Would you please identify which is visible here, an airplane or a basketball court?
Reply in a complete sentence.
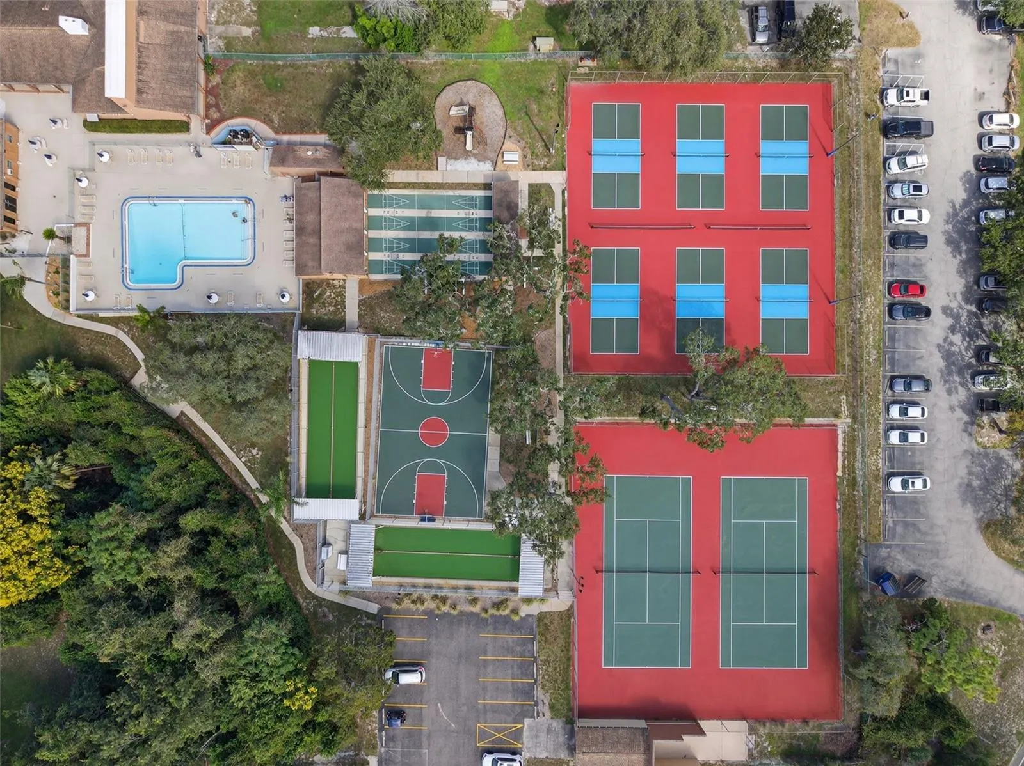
Of the two, only a basketball court appears.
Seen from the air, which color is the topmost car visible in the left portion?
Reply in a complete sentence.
The topmost car visible in the left portion looks white in the image.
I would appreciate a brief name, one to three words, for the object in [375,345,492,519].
basketball court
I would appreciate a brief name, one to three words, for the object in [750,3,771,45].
car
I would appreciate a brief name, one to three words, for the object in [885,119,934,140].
truck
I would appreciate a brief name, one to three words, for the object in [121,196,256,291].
swimming pool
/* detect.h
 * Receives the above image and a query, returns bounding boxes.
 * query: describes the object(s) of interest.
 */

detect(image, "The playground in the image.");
[448,99,487,149]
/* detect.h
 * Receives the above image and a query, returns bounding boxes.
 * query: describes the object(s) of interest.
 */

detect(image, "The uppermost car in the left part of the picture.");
[387,665,423,686]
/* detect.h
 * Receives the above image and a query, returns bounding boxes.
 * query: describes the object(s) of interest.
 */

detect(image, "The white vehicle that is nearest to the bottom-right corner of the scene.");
[889,475,929,494]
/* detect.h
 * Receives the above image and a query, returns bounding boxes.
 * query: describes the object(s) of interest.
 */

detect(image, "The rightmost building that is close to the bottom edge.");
[647,719,707,766]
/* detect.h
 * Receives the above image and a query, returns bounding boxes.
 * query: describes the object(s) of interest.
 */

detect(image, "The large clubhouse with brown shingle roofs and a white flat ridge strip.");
[0,0,207,121]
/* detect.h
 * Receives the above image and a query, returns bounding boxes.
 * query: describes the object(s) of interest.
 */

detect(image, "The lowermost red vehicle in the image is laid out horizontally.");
[889,281,927,299]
